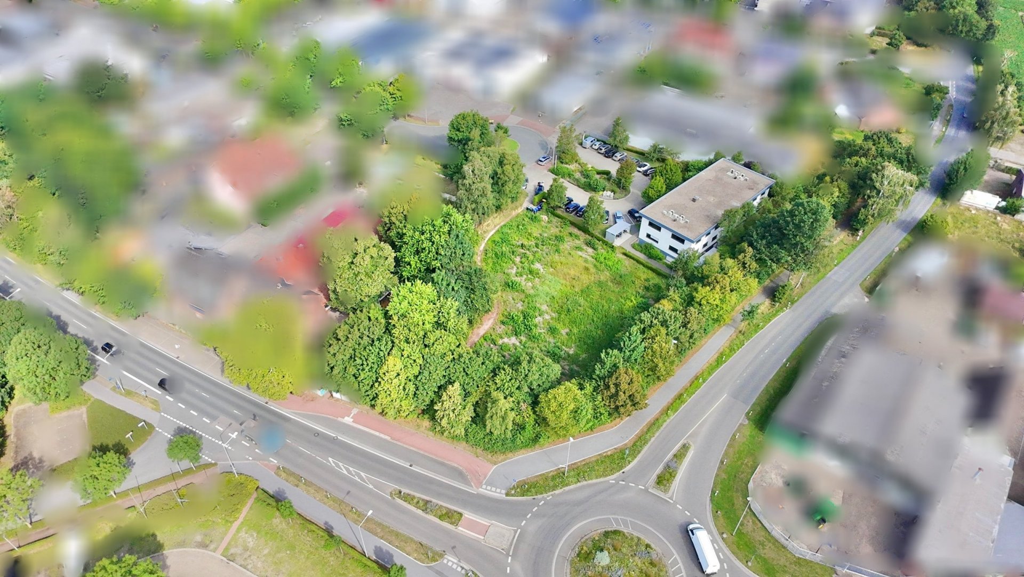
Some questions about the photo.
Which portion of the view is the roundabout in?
bottom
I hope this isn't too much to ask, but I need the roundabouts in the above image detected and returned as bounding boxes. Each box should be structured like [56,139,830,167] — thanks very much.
[464,466,758,577]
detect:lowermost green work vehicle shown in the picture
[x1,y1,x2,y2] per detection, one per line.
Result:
[816,500,838,528]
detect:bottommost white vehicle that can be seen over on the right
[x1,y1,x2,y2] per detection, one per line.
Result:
[689,526,720,577]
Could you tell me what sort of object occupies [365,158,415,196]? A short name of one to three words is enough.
shed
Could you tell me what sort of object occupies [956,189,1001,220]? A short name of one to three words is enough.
trailer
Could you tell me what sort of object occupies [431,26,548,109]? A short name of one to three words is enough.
building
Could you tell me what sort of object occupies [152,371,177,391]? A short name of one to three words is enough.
car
